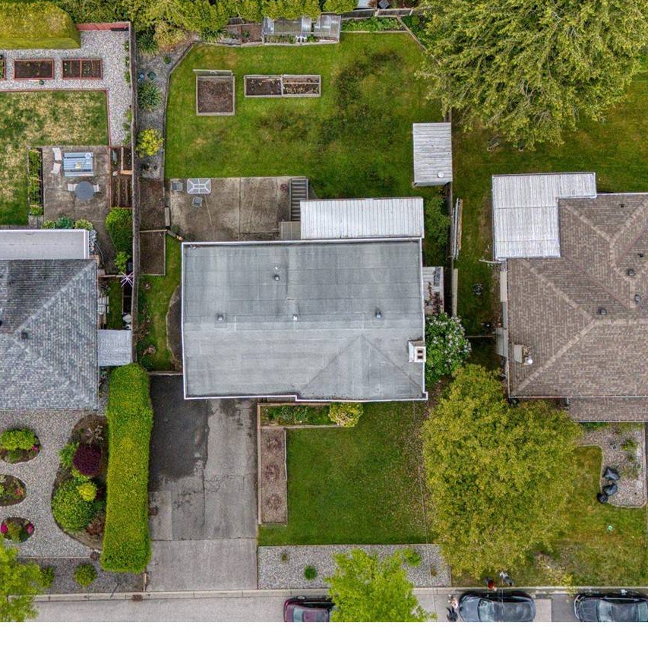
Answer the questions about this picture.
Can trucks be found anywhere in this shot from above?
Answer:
No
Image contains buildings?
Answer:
Yes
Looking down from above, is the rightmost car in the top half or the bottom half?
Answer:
bottom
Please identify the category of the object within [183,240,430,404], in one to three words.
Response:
house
